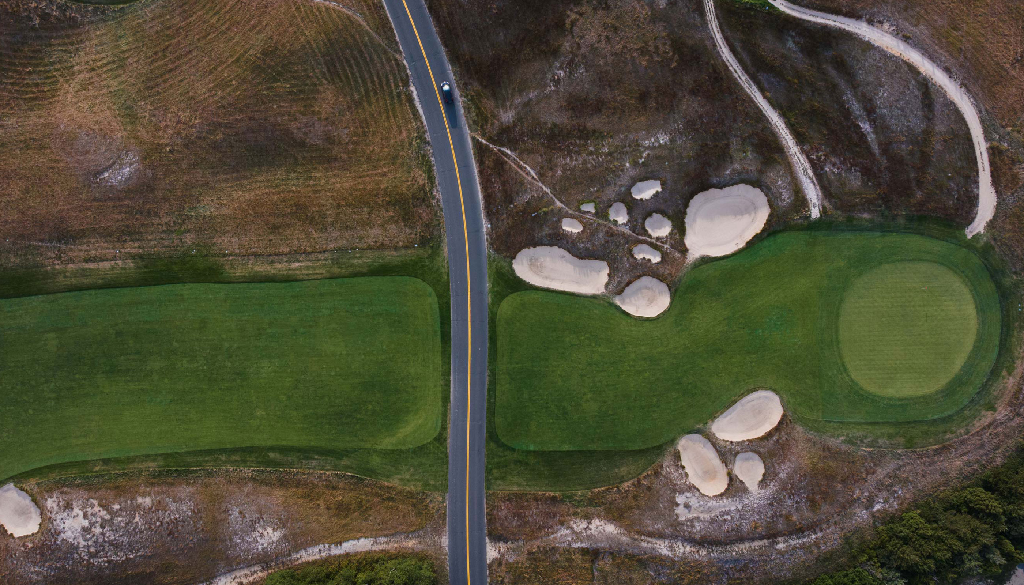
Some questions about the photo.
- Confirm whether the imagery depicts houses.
No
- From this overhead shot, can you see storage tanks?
No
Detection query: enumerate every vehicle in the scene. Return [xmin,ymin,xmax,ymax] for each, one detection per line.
[441,80,453,103]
